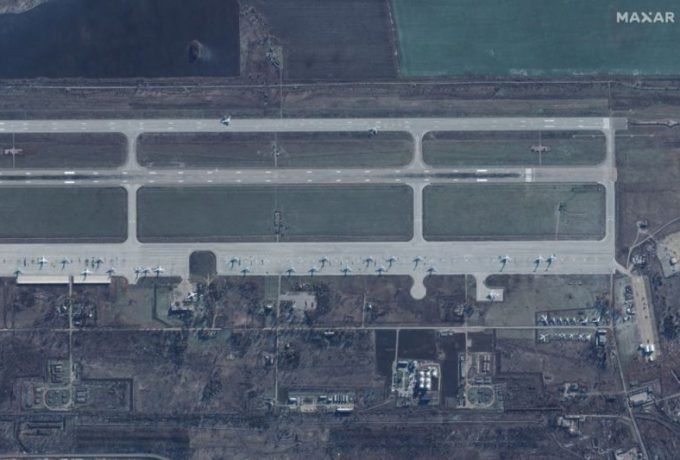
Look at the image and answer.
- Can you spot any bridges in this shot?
No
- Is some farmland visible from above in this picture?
Yes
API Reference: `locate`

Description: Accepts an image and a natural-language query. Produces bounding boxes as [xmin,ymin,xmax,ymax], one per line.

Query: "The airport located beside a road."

[0,117,633,311]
